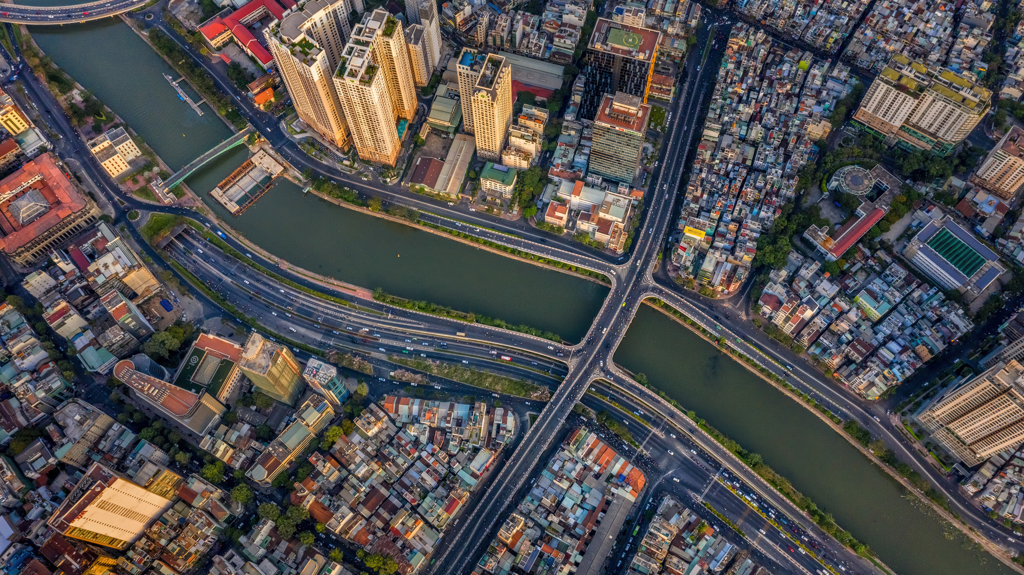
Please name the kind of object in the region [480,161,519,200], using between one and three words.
house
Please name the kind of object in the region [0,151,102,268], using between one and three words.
building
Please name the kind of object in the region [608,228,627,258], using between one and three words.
house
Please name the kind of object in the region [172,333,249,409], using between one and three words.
building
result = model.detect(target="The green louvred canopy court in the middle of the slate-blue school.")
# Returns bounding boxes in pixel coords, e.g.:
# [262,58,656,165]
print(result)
[928,228,986,277]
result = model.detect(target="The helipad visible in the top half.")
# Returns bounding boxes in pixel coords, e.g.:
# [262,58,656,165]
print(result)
[606,27,643,50]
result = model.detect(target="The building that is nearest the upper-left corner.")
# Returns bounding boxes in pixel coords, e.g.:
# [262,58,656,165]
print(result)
[0,88,31,139]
